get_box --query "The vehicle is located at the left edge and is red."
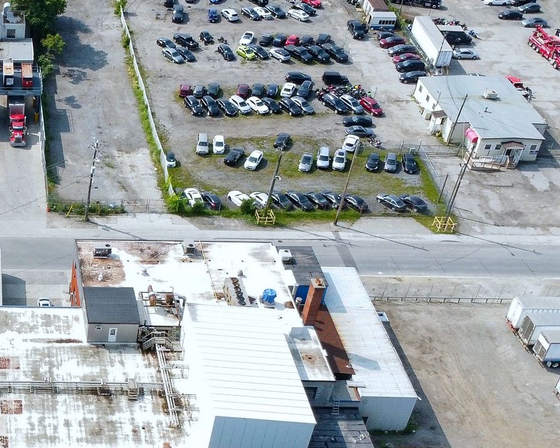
[8,112,25,145]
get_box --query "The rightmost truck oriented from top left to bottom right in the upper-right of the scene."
[524,23,560,69]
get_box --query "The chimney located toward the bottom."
[296,277,323,327]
